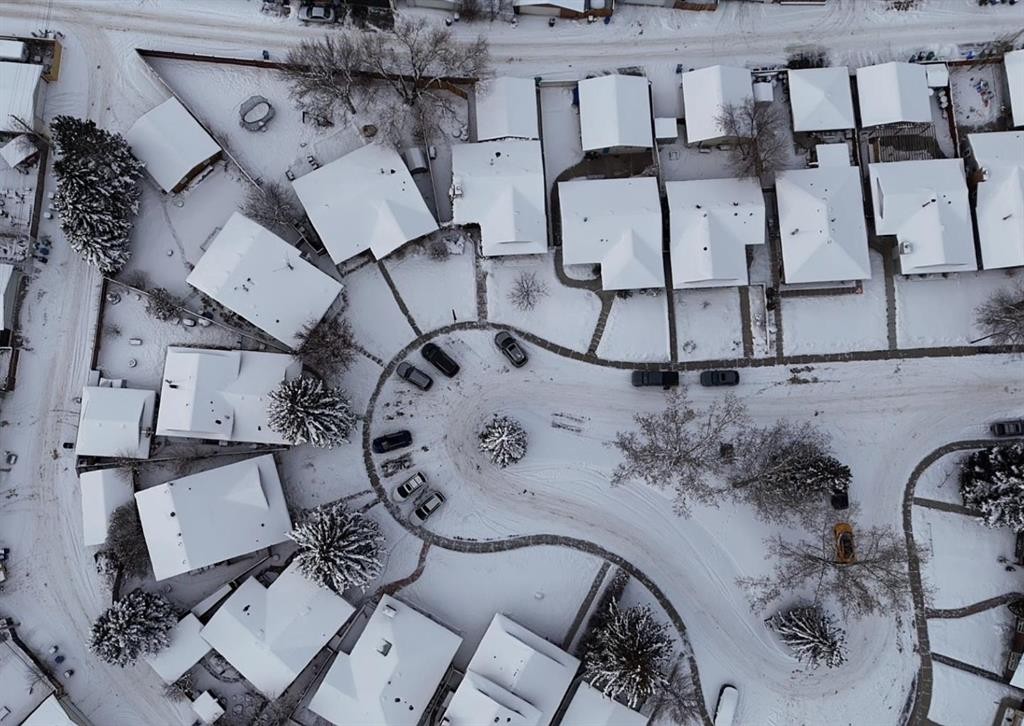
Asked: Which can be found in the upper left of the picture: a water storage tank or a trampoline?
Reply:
trampoline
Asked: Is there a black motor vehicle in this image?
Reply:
Yes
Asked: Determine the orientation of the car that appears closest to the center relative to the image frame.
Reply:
diagonally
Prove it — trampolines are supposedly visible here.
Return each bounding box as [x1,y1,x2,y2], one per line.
[237,94,274,130]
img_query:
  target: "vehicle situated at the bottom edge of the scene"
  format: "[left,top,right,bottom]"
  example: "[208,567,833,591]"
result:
[712,685,741,726]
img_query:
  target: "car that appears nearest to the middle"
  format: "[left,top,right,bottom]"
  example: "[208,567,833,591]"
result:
[495,330,528,368]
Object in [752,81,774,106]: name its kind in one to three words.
shed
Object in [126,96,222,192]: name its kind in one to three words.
building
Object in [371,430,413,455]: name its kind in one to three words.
car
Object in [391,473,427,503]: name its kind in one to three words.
car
